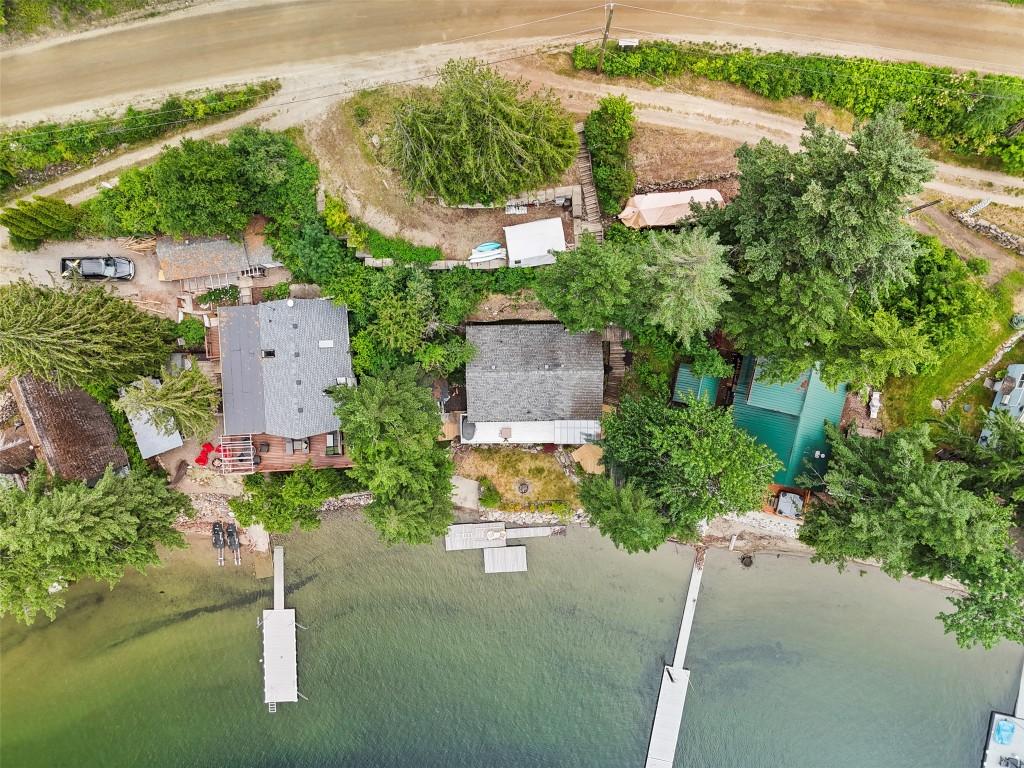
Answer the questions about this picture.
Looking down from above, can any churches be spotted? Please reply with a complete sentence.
No, no church is visible in the view.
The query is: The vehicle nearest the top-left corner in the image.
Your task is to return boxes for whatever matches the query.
[61,251,134,282]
